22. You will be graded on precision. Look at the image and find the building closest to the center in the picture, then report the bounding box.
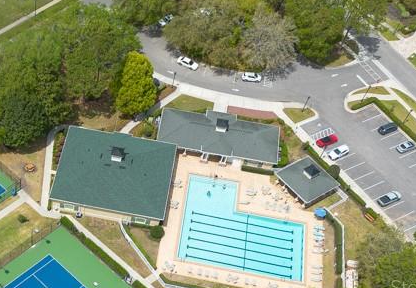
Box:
[156,109,279,172]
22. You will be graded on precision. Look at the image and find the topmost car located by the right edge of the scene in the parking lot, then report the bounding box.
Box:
[376,122,398,137]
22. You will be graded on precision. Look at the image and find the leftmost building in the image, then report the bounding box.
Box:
[48,127,177,225]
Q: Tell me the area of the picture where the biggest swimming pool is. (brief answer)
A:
bottom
